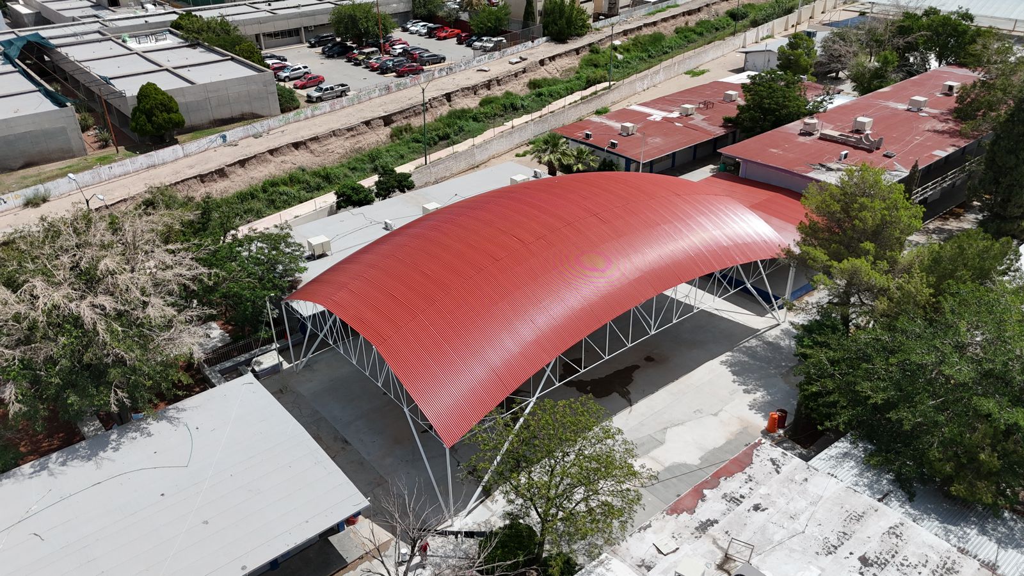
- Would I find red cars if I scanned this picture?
Yes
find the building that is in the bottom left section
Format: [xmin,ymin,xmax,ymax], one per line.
[0,373,374,576]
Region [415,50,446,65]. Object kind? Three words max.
car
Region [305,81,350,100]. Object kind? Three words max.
vehicle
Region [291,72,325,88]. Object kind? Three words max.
car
